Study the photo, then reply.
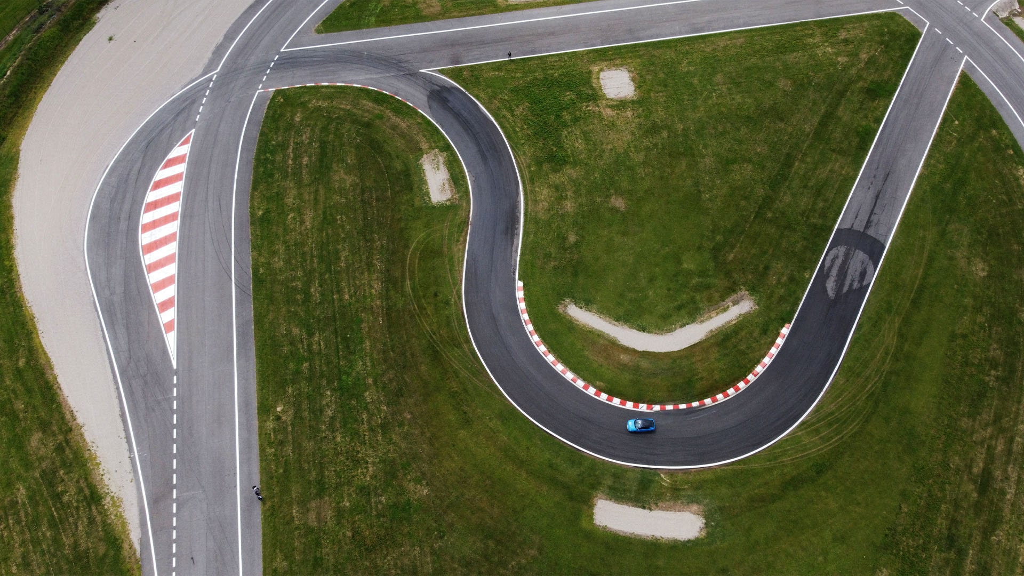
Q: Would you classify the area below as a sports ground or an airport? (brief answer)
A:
sports ground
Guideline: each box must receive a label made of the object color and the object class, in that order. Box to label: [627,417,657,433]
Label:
blue car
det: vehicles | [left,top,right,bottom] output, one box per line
[627,417,657,433]
[249,484,262,500]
